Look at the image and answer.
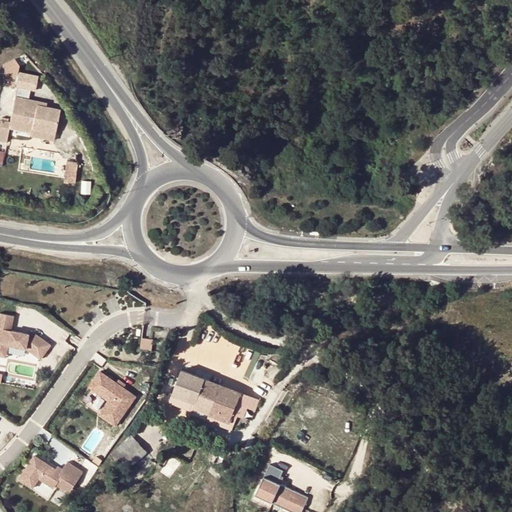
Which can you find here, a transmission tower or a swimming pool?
swimming pool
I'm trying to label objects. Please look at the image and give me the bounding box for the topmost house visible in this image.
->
[0,59,60,142]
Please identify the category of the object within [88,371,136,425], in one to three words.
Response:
house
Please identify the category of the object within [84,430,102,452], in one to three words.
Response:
swimming pool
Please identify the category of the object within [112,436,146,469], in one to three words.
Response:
building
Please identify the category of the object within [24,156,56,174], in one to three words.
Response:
swimming pool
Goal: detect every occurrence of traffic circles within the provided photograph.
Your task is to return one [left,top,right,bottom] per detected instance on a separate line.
[122,160,246,286]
